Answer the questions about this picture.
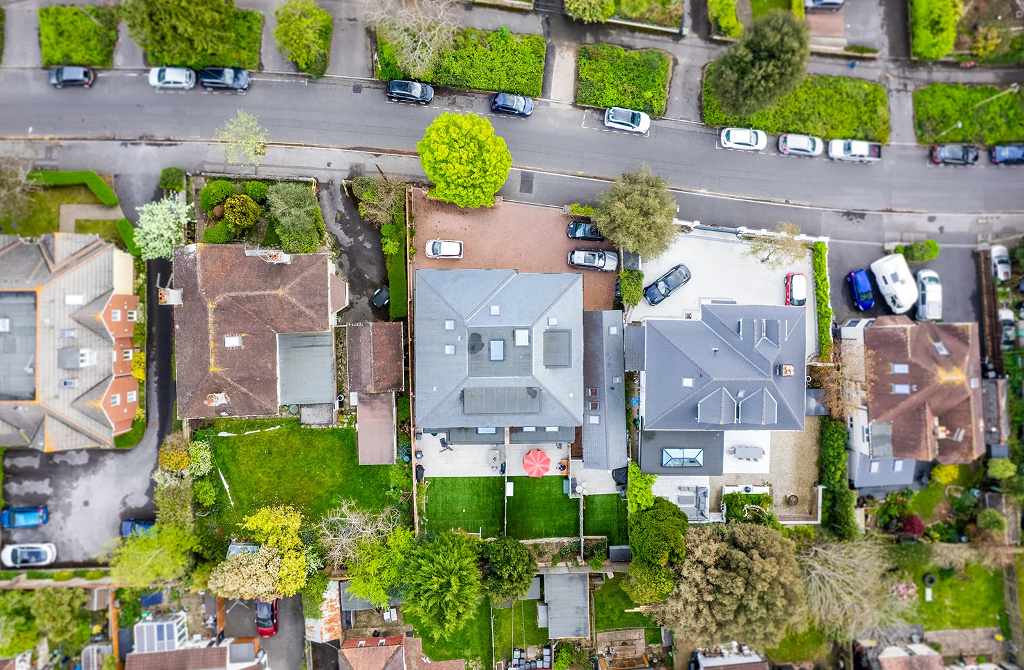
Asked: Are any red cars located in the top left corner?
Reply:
No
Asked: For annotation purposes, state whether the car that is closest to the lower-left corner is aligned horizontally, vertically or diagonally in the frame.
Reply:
horizontally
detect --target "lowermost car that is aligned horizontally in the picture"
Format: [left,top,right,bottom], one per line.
[5,544,56,568]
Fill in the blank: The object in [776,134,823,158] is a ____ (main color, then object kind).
white car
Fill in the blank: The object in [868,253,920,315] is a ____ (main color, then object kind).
white camper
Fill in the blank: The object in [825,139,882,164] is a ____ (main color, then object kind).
white truck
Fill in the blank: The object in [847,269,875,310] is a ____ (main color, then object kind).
blue car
